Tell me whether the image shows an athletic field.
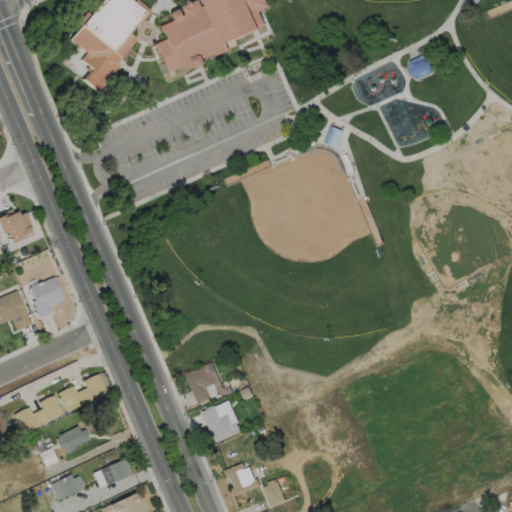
Yes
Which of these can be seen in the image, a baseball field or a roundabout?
baseball field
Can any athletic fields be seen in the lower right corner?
Yes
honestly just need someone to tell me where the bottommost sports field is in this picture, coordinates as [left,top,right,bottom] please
[346,350,500,462]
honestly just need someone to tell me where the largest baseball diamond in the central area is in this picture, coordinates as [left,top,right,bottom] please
[166,147,390,338]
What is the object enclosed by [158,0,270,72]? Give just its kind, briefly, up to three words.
building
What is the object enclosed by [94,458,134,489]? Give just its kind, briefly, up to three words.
house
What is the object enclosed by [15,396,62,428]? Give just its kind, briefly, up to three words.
house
